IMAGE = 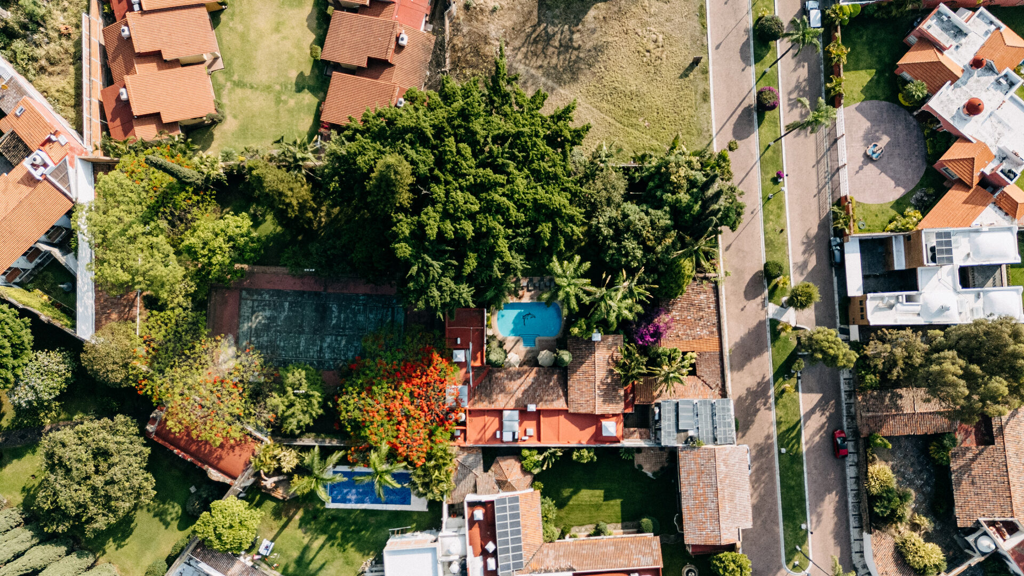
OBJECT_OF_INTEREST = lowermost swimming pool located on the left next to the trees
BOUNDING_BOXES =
[325,465,428,511]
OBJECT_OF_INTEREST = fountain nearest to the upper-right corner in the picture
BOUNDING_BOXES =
[864,140,888,163]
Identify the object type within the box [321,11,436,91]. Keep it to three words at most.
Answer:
house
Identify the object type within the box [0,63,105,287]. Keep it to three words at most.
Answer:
house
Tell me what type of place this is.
residential area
